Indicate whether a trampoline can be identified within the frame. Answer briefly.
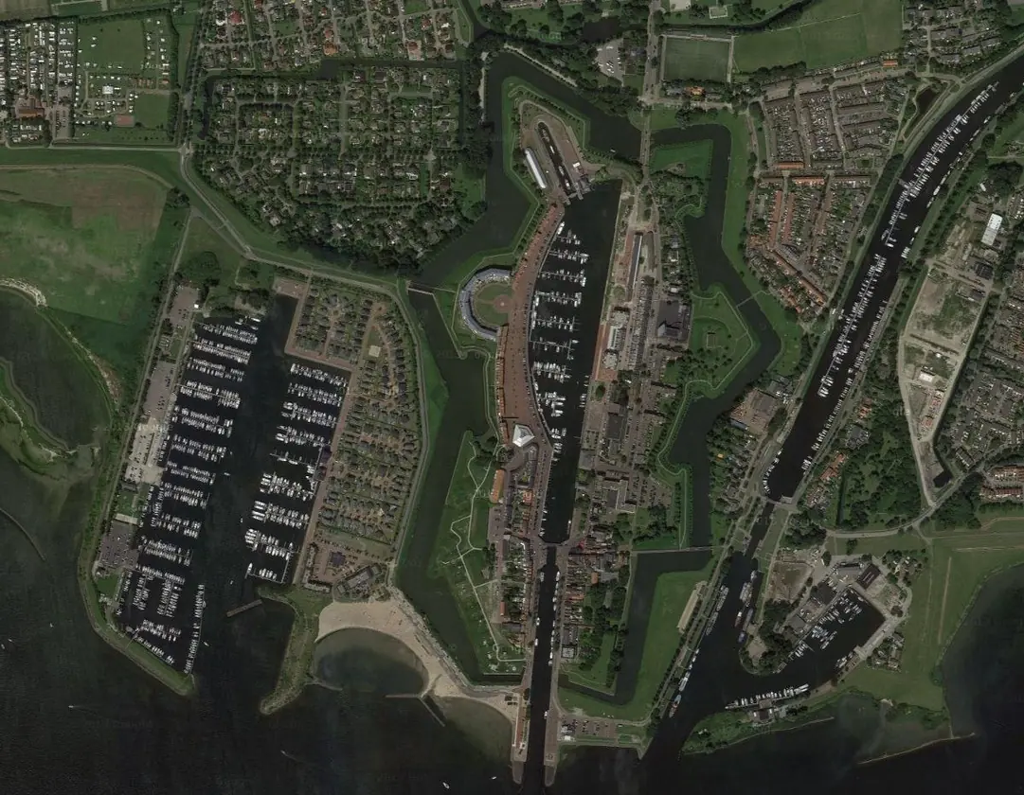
No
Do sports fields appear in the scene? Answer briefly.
Yes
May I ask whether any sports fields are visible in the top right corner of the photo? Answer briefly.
Yes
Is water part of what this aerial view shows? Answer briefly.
Yes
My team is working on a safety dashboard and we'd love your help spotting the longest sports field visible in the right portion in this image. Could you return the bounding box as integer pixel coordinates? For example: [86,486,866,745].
[734,2,904,68]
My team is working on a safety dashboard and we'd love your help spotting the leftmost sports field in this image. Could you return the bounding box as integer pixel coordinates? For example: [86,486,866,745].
[665,38,729,80]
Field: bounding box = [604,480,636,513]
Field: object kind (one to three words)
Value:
house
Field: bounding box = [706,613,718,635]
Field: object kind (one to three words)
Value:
ship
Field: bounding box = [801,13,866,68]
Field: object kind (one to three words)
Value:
sports field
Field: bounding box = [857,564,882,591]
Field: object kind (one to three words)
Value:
building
